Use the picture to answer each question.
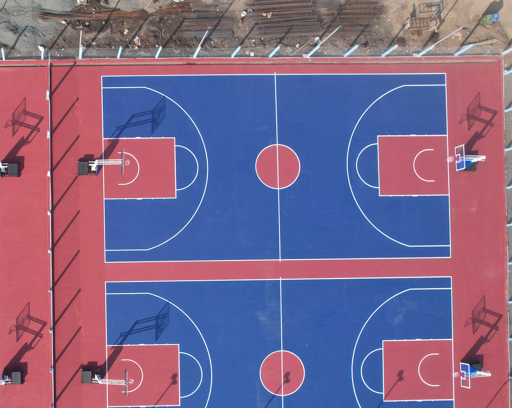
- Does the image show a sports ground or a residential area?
sports ground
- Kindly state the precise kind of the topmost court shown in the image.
basketball court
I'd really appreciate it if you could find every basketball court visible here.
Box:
[102,74,451,262]
[106,277,454,408]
